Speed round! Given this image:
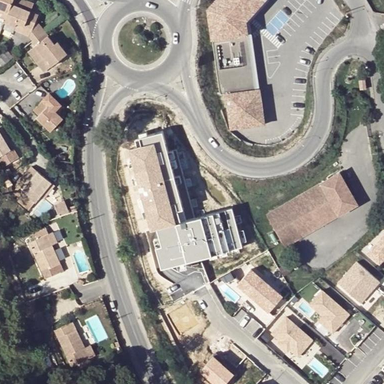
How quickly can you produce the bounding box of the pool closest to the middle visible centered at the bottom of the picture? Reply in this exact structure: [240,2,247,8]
[220,283,241,302]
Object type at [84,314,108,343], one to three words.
swimming pool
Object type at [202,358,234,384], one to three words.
house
